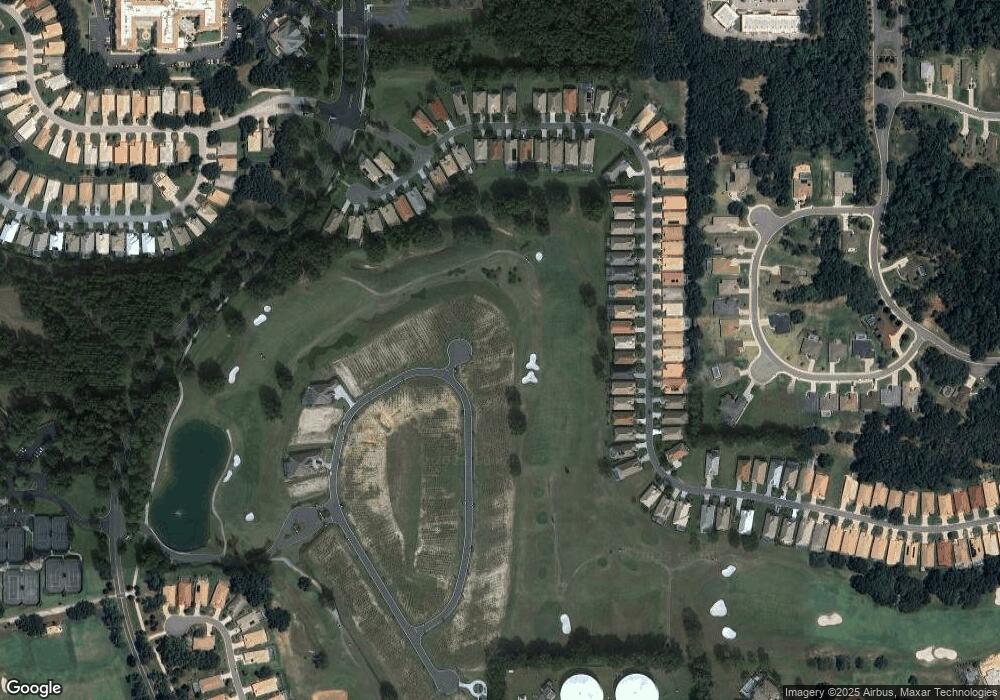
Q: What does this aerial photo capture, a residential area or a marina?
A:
residential area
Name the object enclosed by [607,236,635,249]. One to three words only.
house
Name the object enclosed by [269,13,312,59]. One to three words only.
building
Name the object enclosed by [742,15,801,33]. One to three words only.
building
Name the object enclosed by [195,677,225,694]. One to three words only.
house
